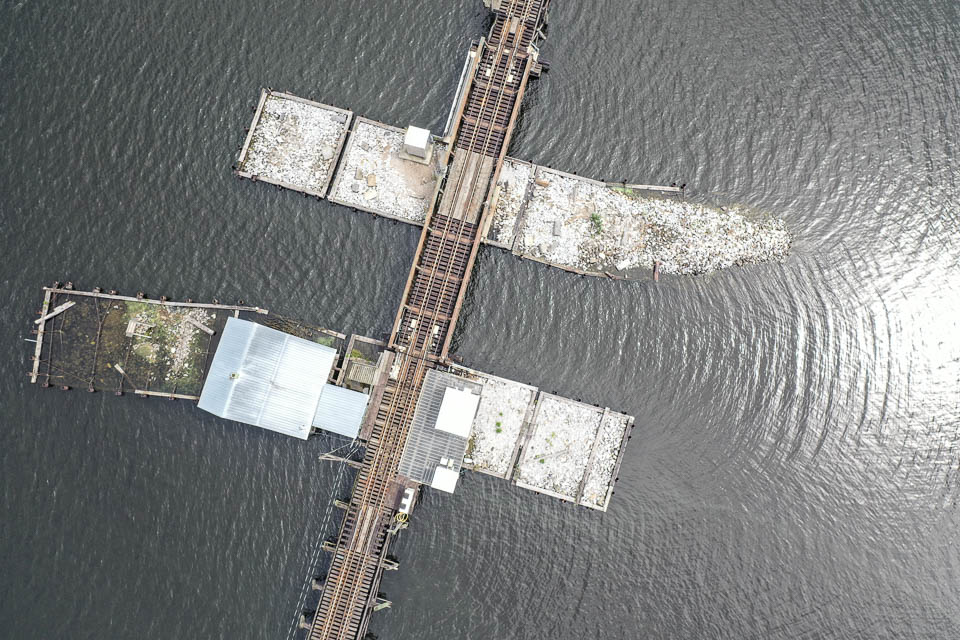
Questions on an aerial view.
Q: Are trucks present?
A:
No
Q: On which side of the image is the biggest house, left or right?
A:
left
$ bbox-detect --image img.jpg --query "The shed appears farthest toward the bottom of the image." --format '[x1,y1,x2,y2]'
[431,461,460,493]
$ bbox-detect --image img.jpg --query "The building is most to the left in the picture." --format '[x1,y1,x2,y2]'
[199,317,338,439]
